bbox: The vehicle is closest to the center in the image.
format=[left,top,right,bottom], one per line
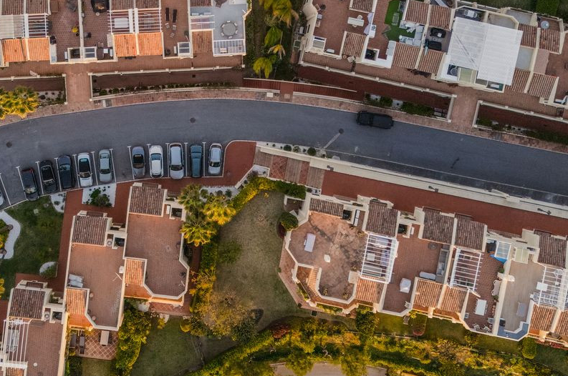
[207,143,224,176]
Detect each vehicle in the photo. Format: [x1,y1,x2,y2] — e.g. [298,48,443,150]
[169,143,184,180]
[131,145,146,177]
[77,153,94,186]
[189,144,205,177]
[148,144,164,176]
[207,143,224,176]
[38,158,57,193]
[56,154,74,190]
[356,110,394,128]
[97,150,114,183]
